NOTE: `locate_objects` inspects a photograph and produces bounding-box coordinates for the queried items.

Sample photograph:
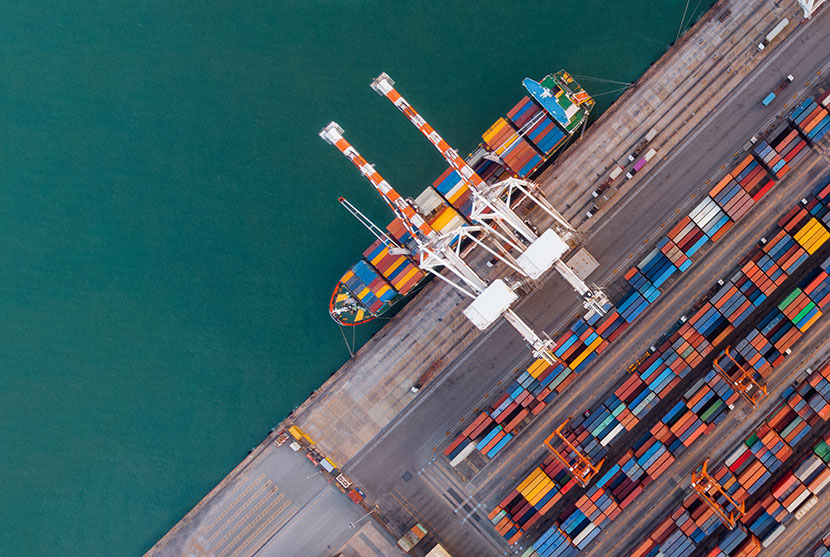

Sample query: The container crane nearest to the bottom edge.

[692,454,750,528]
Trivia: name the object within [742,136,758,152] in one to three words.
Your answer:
vehicle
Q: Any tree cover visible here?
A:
No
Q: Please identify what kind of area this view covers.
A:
port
